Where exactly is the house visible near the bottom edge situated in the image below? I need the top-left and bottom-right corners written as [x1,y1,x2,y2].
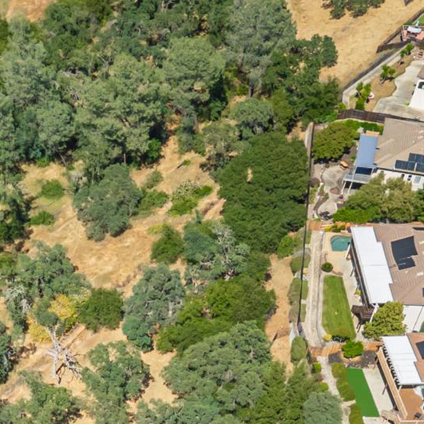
[374,332,424,424]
